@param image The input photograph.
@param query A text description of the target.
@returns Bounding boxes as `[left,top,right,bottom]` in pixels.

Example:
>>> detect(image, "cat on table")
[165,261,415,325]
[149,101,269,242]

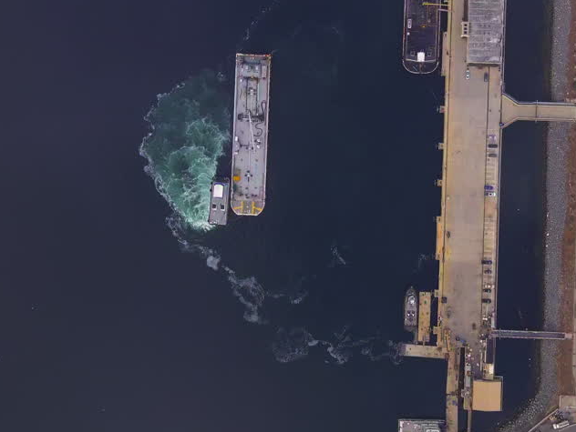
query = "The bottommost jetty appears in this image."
[445,394,458,432]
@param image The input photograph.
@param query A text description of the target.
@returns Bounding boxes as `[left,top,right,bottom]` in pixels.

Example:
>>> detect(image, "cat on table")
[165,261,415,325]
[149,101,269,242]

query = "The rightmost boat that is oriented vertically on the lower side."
[404,285,417,330]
